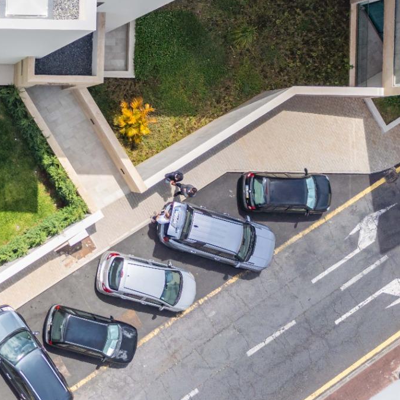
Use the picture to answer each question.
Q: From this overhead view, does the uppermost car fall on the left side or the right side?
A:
right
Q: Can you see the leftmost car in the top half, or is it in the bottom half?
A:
bottom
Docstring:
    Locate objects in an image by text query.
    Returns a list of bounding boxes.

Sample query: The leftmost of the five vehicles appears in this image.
[0,302,79,400]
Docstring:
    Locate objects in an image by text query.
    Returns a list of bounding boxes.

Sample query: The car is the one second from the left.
[40,306,137,369]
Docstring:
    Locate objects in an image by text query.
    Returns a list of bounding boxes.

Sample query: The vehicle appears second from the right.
[161,202,271,274]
